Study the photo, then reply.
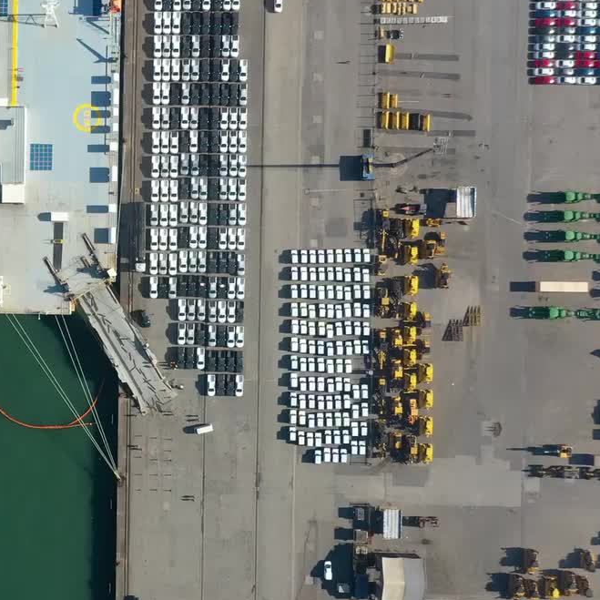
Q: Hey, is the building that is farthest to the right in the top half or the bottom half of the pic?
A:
bottom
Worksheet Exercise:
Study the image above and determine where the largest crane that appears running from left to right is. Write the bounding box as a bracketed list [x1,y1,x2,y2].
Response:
[354,155,413,180]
